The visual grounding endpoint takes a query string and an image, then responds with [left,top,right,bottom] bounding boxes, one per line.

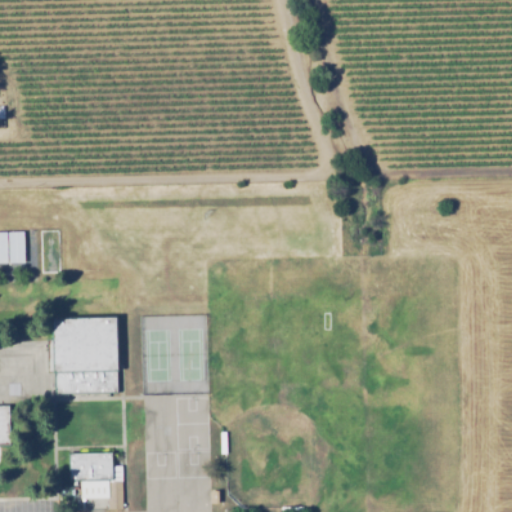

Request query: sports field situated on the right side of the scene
[214,260,457,512]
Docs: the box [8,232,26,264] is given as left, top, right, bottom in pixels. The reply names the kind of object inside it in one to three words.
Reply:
building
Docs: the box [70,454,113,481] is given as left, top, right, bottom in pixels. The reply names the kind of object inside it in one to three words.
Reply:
building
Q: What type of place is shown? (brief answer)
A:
sports ground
